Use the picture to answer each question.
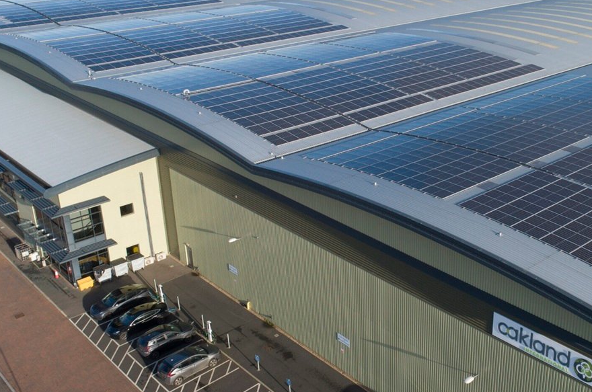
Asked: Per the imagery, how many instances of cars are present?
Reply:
four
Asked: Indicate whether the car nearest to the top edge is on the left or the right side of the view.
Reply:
left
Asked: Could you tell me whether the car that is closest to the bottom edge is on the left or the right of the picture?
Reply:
left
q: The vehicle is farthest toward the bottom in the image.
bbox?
[162,345,225,383]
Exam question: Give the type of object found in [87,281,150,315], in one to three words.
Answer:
car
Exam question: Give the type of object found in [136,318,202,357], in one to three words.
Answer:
car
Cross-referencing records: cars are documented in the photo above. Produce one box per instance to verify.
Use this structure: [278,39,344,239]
[87,281,150,315]
[106,297,172,335]
[136,318,202,357]
[162,345,225,383]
